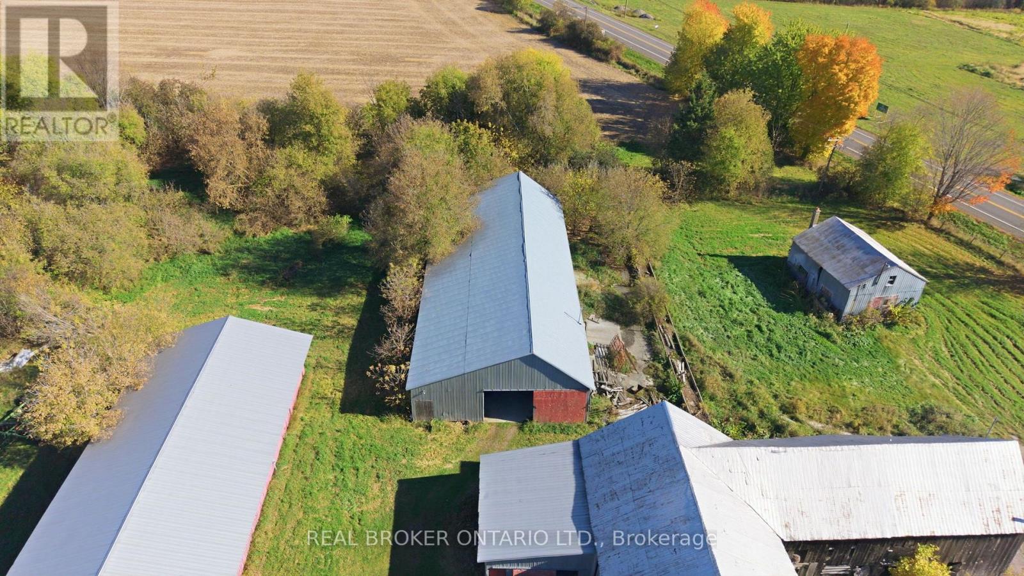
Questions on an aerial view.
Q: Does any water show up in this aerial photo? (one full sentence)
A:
No, the scene doesn't show any water.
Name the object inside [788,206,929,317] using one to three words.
shed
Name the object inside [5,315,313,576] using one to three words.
shed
